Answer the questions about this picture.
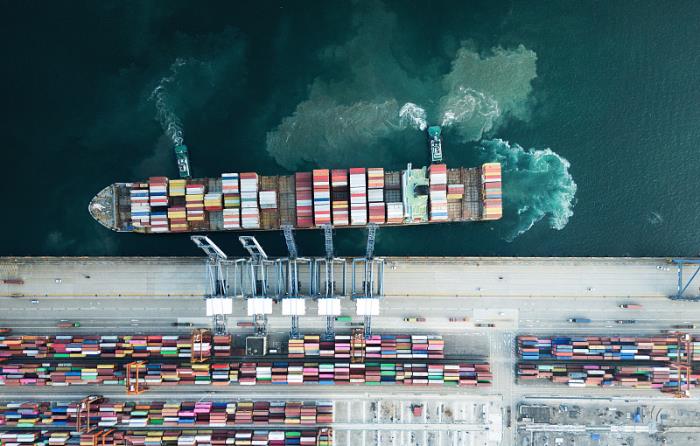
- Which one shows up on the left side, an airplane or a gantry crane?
gantry crane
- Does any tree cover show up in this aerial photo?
No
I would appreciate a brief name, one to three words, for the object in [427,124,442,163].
boat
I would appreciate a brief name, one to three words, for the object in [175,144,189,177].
boat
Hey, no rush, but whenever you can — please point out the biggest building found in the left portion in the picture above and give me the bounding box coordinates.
[247,337,266,356]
